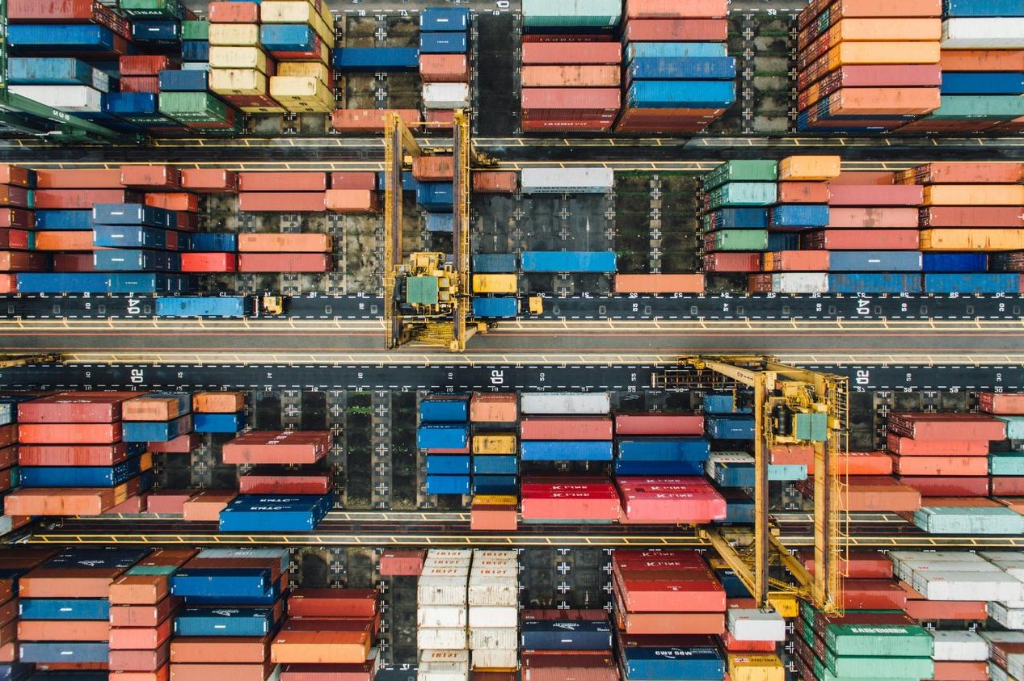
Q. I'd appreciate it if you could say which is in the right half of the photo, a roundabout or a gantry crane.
gantry crane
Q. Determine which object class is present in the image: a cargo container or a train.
cargo container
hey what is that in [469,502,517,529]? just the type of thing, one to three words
shipping container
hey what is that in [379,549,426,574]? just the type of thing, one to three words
shipping container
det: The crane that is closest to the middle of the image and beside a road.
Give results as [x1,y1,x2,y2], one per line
[381,112,504,349]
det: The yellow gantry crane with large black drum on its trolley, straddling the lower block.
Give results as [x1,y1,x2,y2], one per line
[651,349,847,608]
